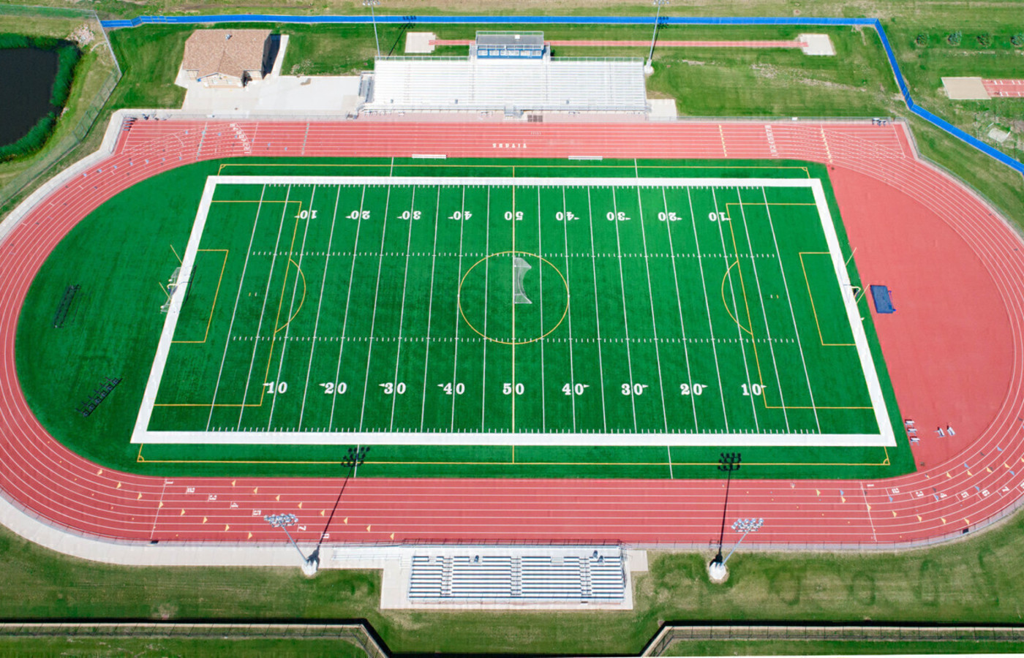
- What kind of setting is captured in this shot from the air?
sports ground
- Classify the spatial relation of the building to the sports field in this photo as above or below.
above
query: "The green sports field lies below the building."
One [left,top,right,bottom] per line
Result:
[14,156,919,480]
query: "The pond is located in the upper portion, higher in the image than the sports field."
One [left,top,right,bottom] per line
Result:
[0,40,79,148]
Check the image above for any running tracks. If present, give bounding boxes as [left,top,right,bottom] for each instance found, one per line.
[0,114,1024,553]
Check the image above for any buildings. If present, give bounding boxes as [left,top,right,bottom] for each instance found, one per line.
[181,29,272,90]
